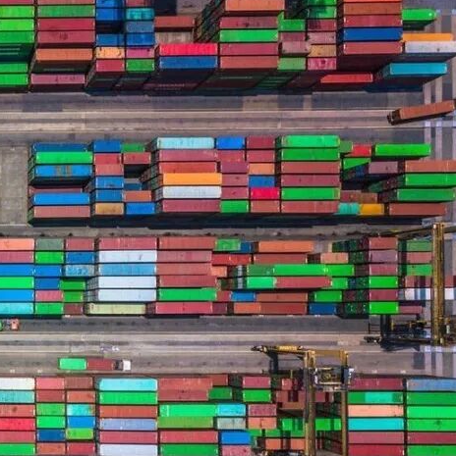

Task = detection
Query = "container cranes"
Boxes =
[250,340,357,456]
[361,218,456,350]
